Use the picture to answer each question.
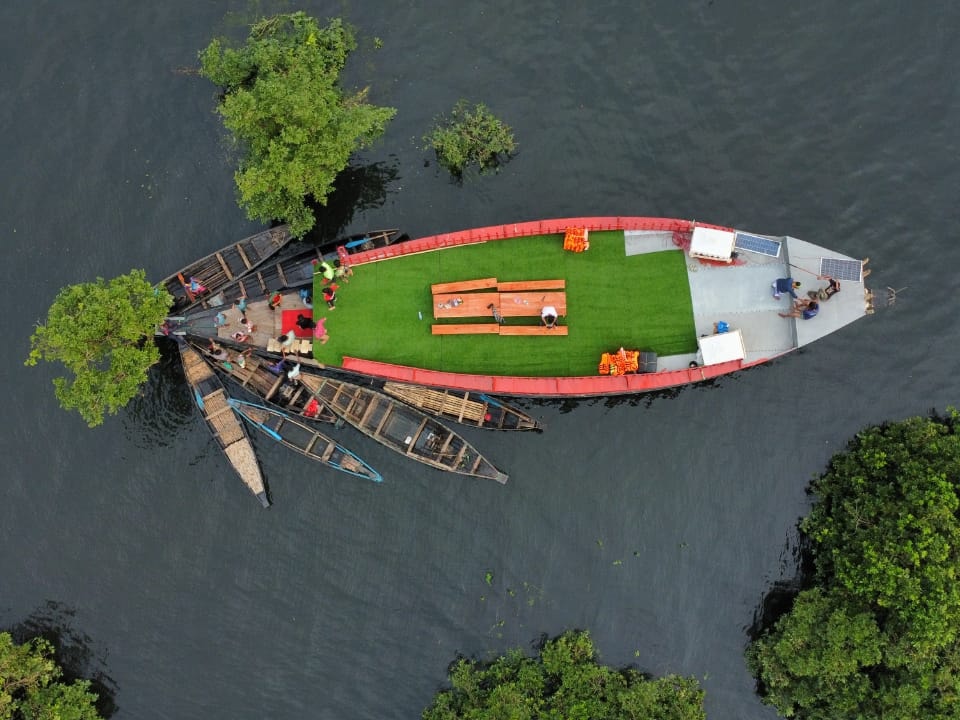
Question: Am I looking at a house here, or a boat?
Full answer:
The one in the frame is a boat.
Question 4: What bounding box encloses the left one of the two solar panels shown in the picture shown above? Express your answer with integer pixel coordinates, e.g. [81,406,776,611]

[735,232,779,257]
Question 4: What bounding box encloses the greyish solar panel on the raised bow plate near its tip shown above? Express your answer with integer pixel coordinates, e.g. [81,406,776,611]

[819,258,862,282]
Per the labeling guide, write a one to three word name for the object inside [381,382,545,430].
boat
